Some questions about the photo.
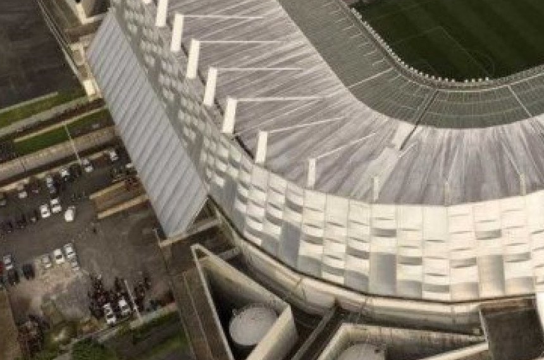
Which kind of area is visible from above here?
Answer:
sports ground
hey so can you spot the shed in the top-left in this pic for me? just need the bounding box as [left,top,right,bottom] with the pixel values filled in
[83,83,104,113]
